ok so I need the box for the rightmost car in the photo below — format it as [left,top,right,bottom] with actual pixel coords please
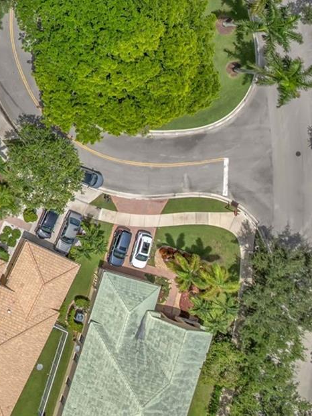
[126,226,156,270]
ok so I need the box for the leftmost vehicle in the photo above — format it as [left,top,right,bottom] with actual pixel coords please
[34,202,62,245]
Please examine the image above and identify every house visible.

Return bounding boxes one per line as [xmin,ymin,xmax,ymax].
[52,267,211,416]
[0,238,81,416]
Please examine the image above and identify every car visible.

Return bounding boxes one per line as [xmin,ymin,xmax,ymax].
[69,166,111,190]
[34,202,62,245]
[52,207,87,258]
[105,224,134,268]
[126,226,156,270]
